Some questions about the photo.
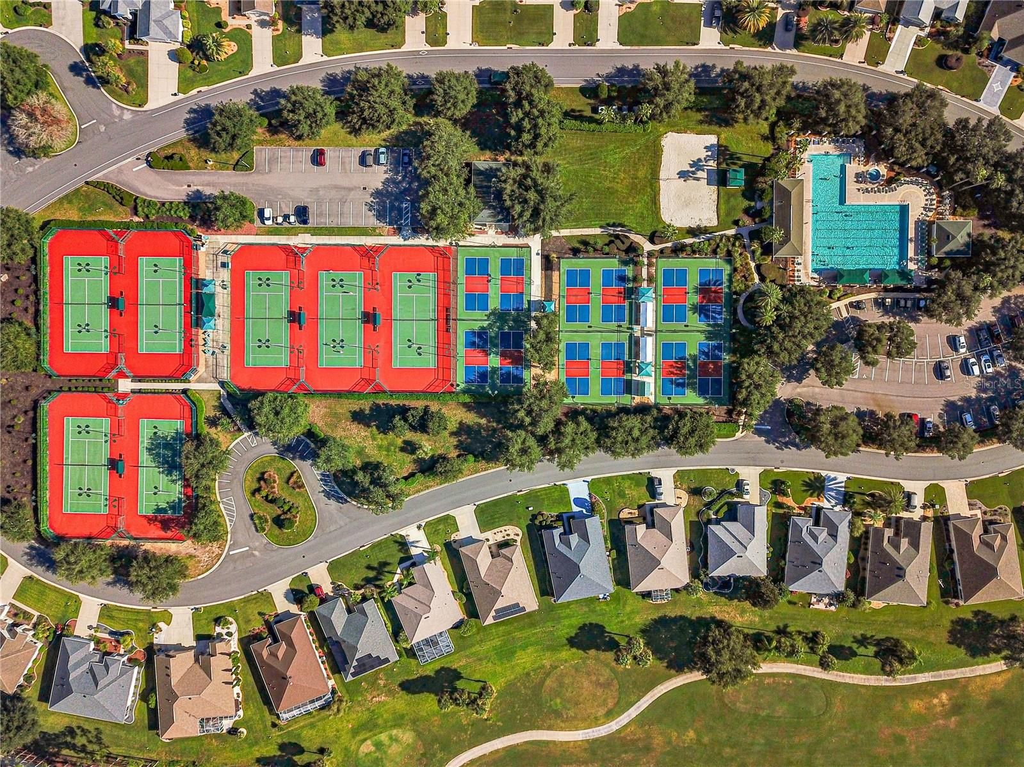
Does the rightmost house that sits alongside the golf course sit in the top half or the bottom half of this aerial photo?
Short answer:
bottom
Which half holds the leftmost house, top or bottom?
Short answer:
bottom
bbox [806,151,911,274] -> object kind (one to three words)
swimming pool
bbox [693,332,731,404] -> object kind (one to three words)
sports court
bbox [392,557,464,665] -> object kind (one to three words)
house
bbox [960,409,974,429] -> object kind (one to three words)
car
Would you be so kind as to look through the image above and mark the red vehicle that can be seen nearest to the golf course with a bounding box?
[313,581,326,601]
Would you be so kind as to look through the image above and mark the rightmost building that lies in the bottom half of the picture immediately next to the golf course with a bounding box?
[948,517,1023,605]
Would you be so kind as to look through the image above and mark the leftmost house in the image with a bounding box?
[0,627,44,695]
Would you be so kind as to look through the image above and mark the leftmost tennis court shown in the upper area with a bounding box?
[48,230,122,377]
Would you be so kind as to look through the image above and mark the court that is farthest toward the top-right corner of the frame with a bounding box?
[655,132,726,227]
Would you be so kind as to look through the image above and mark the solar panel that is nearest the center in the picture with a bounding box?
[493,603,526,621]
